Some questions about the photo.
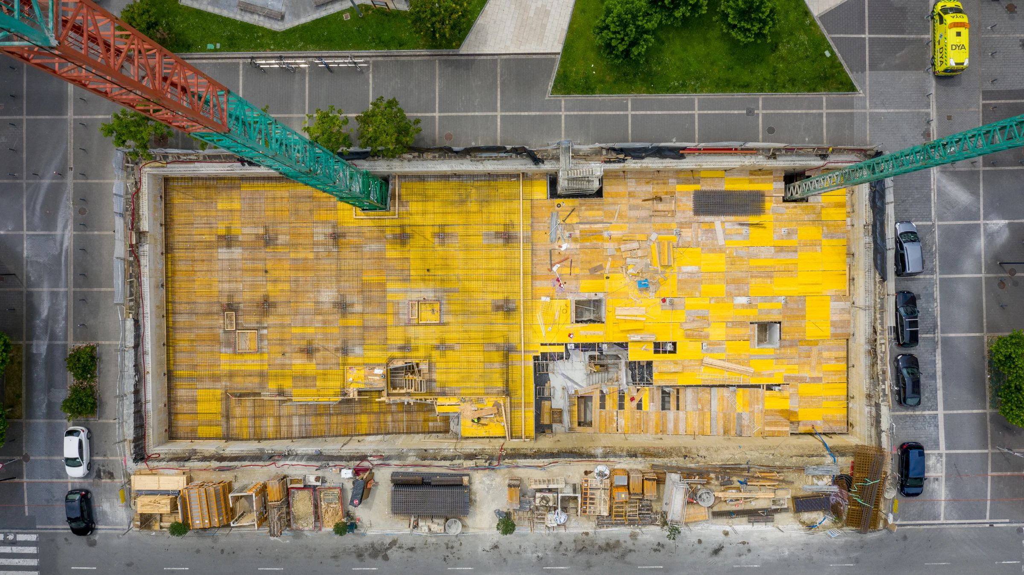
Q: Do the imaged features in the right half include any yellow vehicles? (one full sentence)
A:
Yes, a yellow vehicle is visible in the right half.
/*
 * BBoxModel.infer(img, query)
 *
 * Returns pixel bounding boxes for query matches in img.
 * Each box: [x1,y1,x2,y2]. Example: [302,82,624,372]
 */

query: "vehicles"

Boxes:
[60,427,93,479]
[893,220,927,278]
[896,442,928,498]
[892,355,924,408]
[894,291,925,349]
[64,488,96,538]
[928,0,974,75]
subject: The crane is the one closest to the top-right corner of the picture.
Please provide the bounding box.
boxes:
[782,110,1024,203]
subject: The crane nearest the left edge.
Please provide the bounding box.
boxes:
[0,0,394,213]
